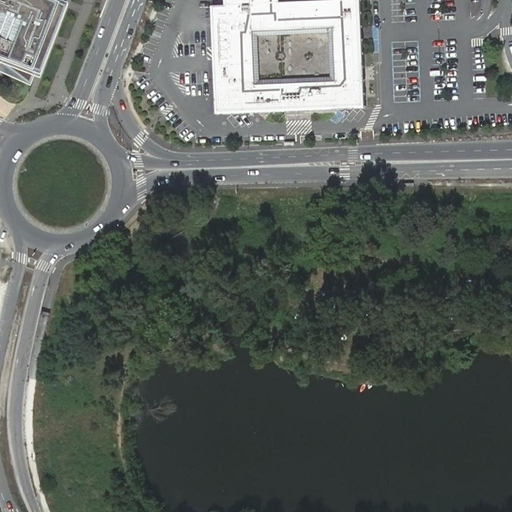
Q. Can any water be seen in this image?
Yes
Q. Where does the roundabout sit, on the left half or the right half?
left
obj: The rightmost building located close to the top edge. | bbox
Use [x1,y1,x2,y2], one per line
[210,0,362,115]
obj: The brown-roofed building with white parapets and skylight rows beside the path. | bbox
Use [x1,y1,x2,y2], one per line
[0,0,68,85]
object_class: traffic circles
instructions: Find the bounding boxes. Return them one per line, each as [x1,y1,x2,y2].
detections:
[0,112,134,256]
